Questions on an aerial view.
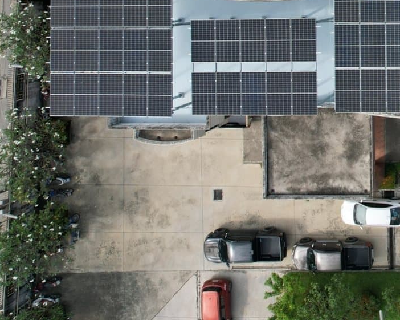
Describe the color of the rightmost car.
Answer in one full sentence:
The rightmost car is white.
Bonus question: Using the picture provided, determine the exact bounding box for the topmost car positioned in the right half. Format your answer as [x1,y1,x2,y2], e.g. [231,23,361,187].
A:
[342,198,400,235]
